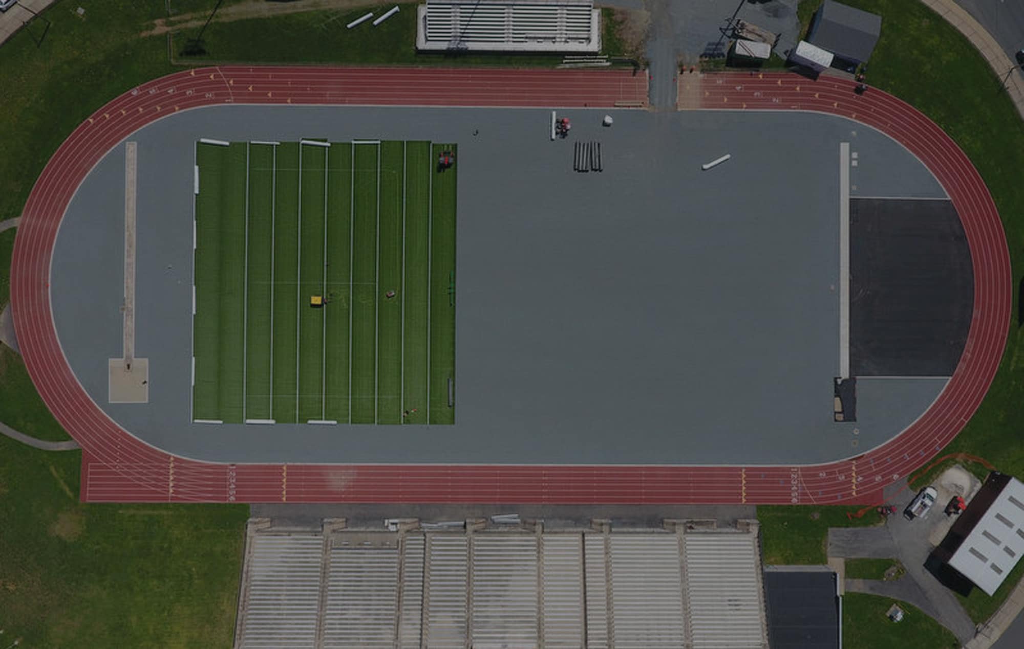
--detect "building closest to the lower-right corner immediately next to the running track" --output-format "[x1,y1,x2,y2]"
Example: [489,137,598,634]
[931,469,1024,597]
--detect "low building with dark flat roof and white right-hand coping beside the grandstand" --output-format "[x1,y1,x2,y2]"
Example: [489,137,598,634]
[762,565,843,649]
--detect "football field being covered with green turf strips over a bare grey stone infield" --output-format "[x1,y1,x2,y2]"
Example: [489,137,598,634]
[51,105,948,464]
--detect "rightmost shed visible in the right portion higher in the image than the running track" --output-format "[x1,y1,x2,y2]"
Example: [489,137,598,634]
[806,0,882,66]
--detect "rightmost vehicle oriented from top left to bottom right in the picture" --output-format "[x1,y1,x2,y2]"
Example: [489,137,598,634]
[938,492,967,514]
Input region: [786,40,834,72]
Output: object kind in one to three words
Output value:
trailer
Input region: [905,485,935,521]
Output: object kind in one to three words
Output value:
truck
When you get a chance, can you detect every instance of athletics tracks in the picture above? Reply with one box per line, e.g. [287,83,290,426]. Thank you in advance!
[10,65,1013,505]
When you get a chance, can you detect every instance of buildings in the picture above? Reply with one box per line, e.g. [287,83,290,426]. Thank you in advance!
[762,565,843,649]
[931,469,1024,597]
[806,0,882,66]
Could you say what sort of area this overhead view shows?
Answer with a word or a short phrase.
sports ground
